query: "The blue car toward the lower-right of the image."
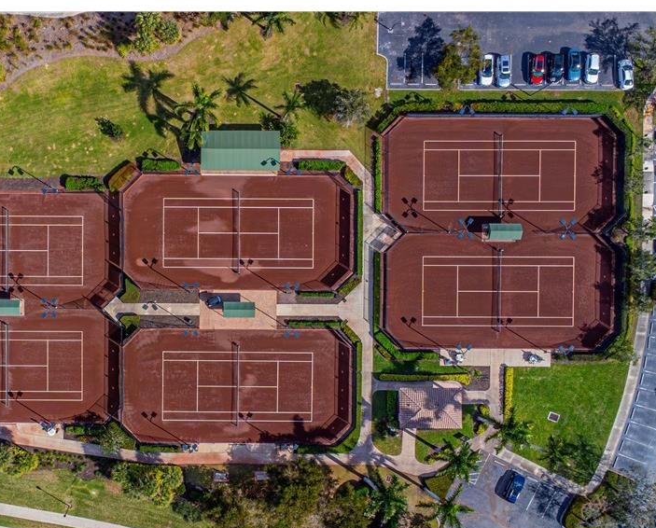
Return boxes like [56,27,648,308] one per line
[504,472,527,503]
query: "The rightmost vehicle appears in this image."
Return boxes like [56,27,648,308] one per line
[620,58,638,88]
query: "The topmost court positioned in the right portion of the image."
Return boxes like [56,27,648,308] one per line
[385,115,616,233]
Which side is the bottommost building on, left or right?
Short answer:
right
